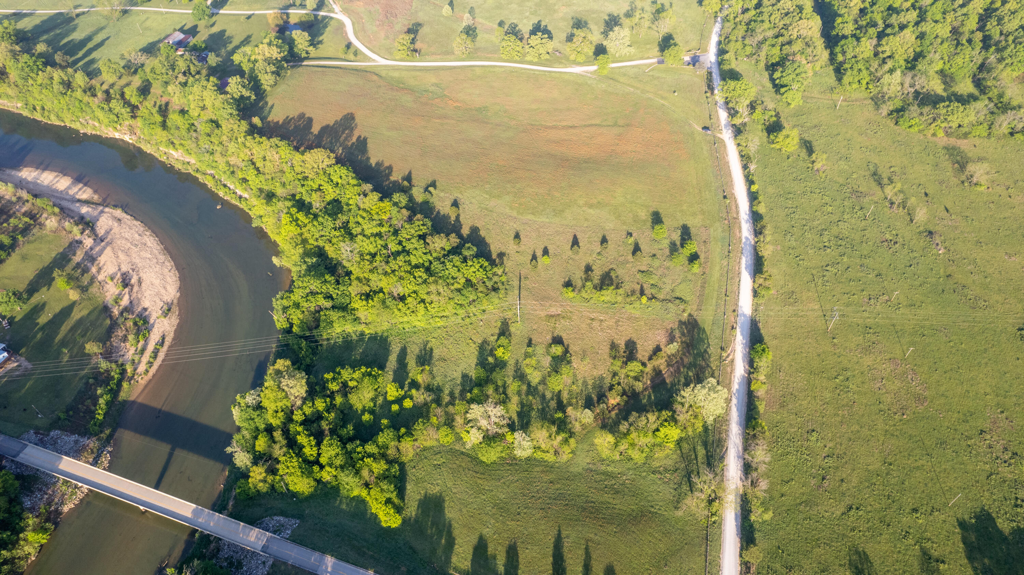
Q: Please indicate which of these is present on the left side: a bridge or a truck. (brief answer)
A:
bridge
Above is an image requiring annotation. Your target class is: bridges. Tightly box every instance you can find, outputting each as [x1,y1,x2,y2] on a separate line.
[5,440,279,558]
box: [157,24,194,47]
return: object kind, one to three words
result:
barn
